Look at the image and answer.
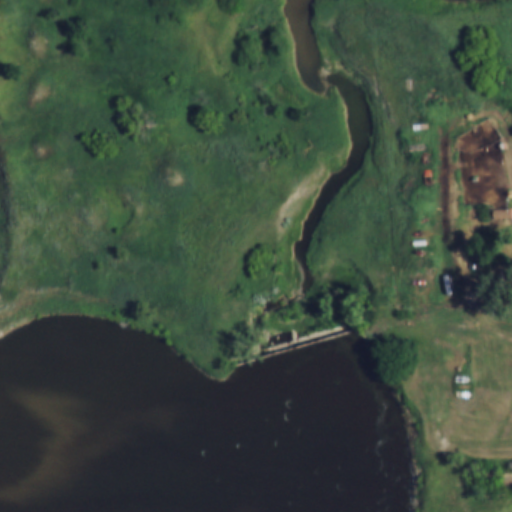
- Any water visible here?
Yes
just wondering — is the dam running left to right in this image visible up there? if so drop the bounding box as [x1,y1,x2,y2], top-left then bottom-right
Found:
[262,325,352,356]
